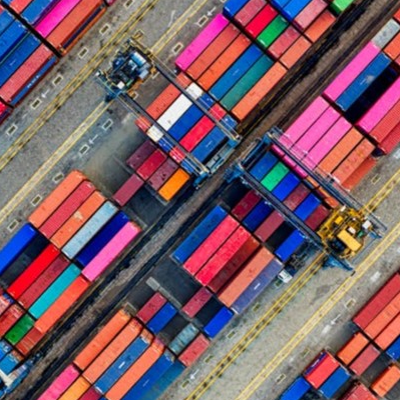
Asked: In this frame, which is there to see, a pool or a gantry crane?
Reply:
gantry crane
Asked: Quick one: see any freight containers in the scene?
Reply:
Yes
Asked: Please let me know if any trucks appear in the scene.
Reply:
Yes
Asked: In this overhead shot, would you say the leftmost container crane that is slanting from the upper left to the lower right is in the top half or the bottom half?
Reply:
top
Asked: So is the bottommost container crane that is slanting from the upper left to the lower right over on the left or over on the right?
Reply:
right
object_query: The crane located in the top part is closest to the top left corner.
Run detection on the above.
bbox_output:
[89,27,250,186]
